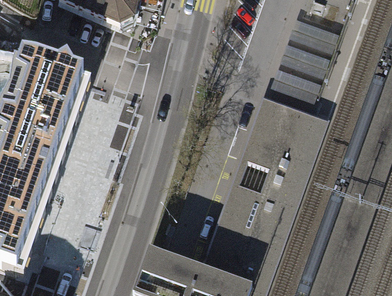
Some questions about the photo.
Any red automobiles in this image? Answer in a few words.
Yes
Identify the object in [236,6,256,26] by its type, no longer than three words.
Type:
car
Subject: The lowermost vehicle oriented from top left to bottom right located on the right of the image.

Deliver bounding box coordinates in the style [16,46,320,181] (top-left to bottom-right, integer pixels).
[230,19,250,38]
